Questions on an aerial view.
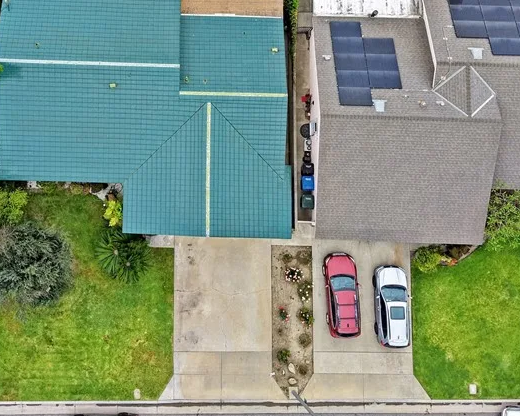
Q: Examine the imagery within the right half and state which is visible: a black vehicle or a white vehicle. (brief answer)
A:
white vehicle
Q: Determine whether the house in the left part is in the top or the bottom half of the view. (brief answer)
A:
top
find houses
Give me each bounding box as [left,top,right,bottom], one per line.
[308,0,520,245]
[0,0,292,239]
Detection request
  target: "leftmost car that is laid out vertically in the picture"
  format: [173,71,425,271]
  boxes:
[322,252,362,340]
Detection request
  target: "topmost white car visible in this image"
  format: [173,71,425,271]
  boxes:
[372,264,413,350]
